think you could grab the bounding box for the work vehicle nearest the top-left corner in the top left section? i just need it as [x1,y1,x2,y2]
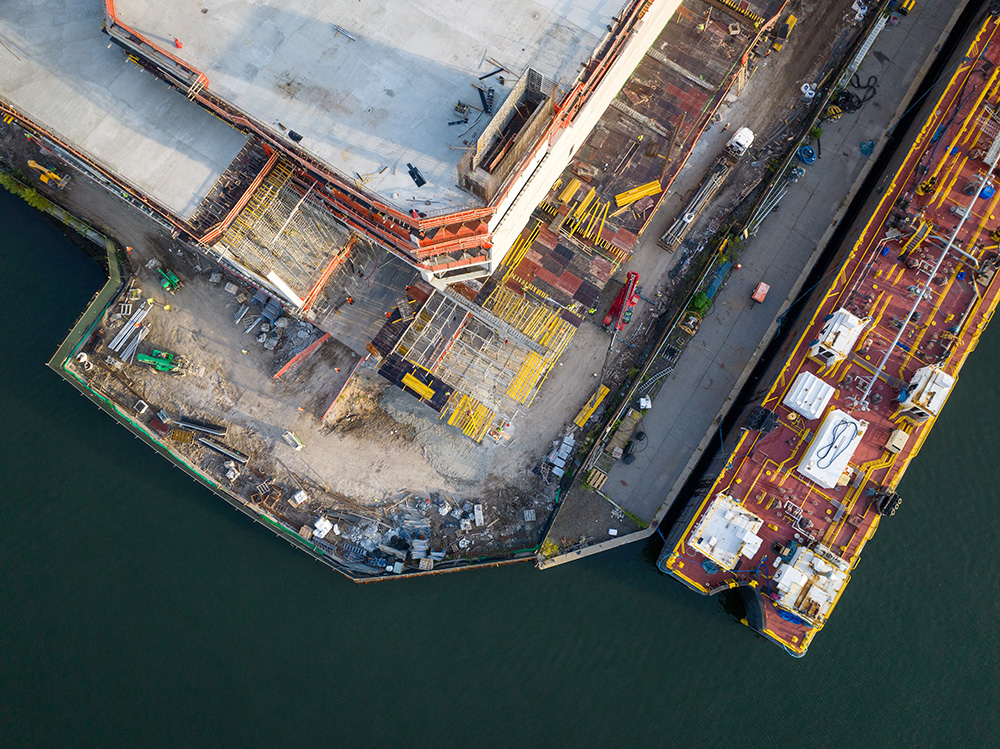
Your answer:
[22,156,66,193]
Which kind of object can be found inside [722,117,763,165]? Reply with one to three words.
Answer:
truck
